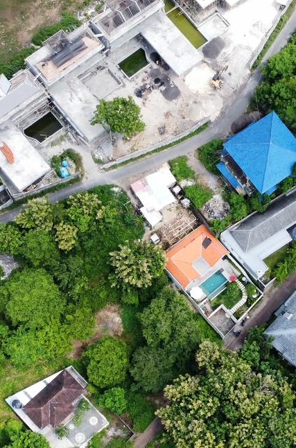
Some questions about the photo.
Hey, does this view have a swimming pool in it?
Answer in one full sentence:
Yes, a swimming pool can be made out from above.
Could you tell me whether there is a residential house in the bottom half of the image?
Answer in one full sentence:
Yes, a residential house appears in the bottom half of the image.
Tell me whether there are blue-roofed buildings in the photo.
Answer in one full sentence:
Yes, the photo shows a blue-roofed building.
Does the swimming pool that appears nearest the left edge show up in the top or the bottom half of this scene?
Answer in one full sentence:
The top half of the photo is where the swimming pool that appears nearest the left edge is.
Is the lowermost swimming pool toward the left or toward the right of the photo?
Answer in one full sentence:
The lowermost swimming pool sits on the right side.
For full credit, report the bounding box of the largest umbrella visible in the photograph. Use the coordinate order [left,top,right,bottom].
[190,286,204,301]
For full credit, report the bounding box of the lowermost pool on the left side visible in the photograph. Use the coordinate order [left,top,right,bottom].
[22,111,65,144]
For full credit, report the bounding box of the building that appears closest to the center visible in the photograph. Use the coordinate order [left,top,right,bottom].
[131,166,177,226]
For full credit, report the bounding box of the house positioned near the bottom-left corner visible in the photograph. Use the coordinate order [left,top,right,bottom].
[6,367,88,441]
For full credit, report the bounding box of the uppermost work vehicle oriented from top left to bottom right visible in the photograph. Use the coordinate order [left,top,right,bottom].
[206,70,230,99]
